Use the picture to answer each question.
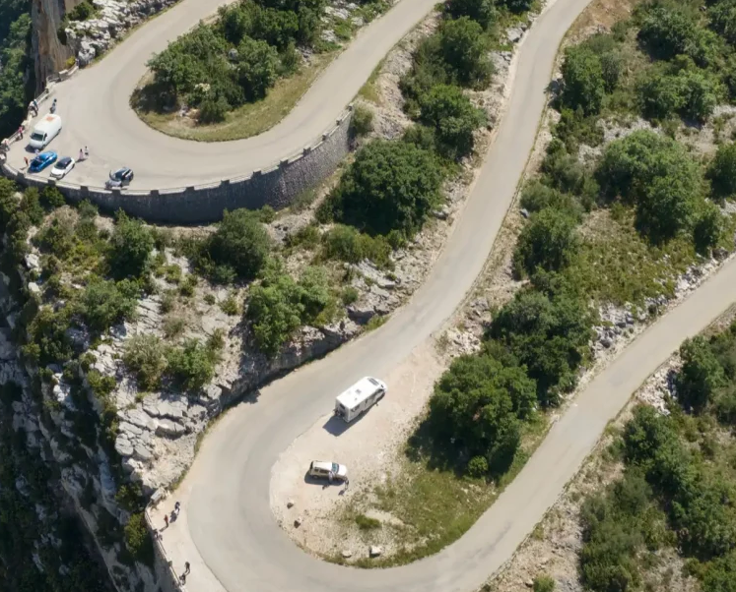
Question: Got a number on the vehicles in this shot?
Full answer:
The photo contains 6 vehicles.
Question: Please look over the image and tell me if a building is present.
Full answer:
No, there appears to be no building in this shot.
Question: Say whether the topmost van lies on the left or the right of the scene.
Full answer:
It is on the left.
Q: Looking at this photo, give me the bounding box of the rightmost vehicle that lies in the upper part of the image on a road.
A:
[103,160,134,185]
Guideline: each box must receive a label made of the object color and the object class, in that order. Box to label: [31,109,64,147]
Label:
white van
